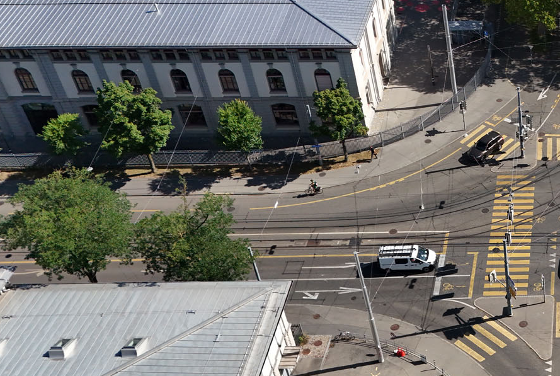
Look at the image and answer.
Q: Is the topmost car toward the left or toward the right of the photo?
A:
right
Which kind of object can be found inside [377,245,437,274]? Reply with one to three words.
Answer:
van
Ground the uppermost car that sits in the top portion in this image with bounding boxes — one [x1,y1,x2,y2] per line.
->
[463,129,502,164]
